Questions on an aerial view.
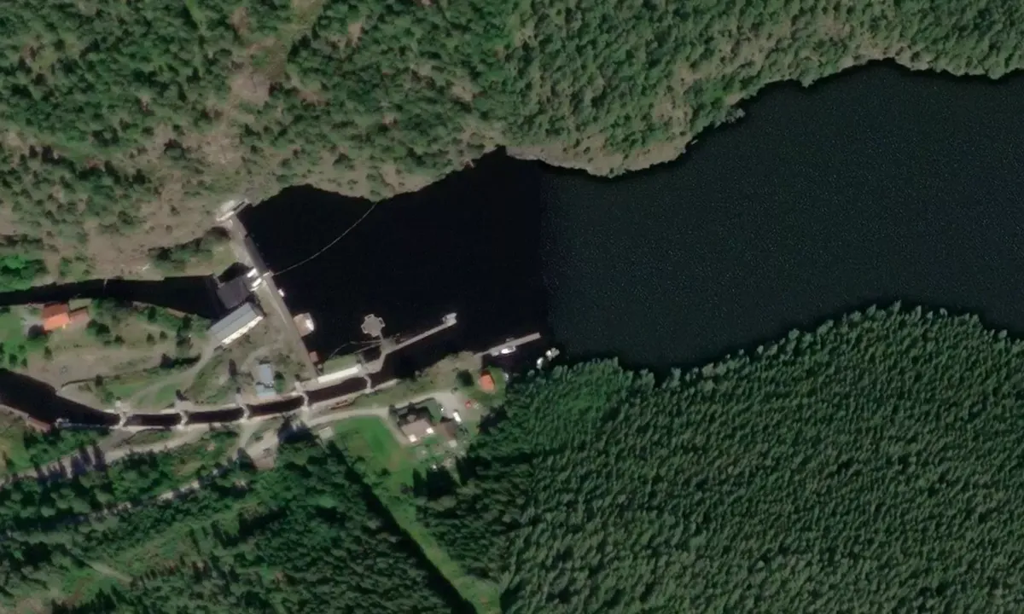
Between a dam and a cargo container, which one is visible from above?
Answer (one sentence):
The image shows a dam.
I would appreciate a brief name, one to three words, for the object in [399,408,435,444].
house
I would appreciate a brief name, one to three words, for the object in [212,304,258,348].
building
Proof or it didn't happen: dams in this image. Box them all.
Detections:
[216,200,319,378]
